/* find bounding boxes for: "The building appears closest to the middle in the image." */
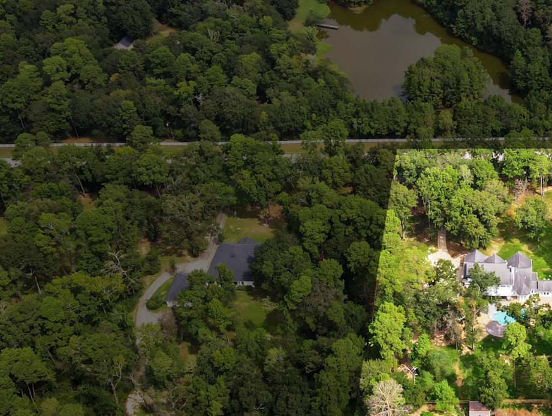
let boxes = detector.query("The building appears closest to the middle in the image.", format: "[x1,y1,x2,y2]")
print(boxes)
[204,234,269,288]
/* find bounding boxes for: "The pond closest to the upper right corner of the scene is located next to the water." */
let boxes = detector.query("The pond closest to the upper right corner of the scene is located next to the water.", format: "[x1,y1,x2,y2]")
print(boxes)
[316,0,533,114]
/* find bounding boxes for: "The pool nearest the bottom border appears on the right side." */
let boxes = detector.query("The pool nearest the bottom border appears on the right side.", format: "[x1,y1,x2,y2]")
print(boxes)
[490,306,526,327]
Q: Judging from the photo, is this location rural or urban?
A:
rural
